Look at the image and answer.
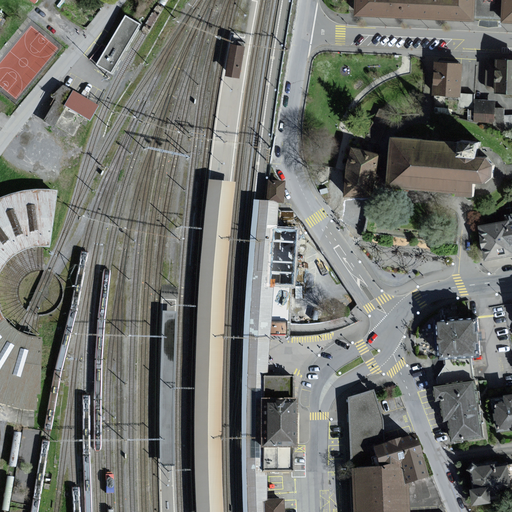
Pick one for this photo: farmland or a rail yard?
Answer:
rail yard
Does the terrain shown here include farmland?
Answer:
No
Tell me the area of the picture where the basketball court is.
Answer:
top left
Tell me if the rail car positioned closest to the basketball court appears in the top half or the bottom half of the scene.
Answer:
top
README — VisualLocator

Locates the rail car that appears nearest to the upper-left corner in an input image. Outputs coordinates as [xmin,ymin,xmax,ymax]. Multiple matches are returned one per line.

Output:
[140,4,163,35]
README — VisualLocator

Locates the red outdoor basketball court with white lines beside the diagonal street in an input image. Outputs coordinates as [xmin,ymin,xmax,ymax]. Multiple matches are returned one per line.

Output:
[0,26,58,98]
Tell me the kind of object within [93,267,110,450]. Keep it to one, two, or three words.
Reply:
train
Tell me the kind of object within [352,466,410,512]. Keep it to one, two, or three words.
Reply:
building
